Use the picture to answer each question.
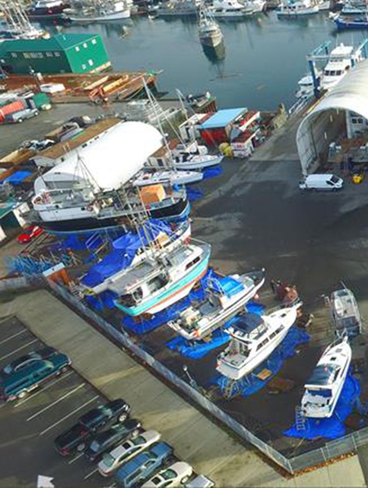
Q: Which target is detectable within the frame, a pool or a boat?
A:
boat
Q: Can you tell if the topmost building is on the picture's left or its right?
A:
left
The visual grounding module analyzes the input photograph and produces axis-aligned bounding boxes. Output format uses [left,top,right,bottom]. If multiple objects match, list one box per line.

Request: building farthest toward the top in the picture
[0,28,113,73]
